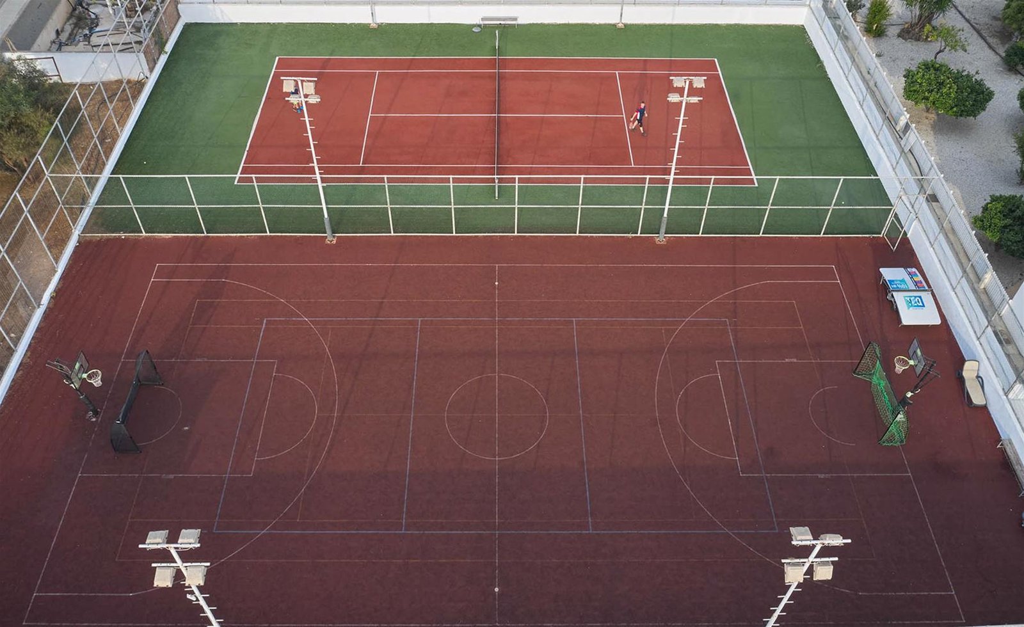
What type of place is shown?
sports ground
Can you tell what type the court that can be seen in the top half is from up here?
tennis court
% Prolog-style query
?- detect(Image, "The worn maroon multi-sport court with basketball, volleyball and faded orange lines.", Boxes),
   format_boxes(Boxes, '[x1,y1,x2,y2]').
[0,234,1024,627]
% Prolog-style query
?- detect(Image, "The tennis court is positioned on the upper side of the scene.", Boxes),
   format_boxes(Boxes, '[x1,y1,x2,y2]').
[80,22,907,237]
